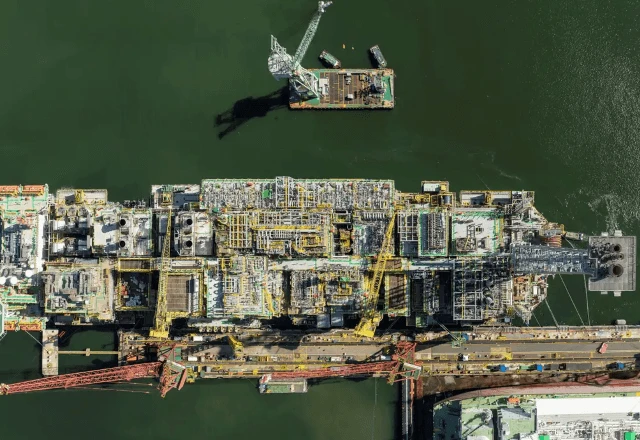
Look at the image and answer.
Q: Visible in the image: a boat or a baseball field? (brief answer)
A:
boat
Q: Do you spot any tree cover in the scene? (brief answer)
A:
No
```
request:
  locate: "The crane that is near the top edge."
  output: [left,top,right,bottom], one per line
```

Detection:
[268,1,332,101]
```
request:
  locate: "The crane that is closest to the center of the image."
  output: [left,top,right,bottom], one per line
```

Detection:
[356,208,398,341]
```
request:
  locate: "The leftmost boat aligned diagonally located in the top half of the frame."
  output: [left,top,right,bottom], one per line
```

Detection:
[320,50,342,68]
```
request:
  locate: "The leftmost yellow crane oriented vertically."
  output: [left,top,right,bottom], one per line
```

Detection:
[148,205,178,343]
